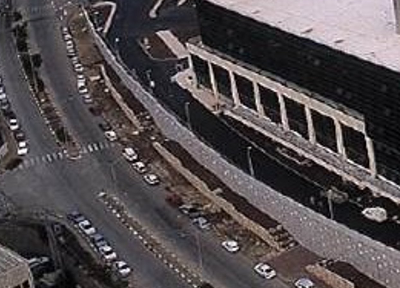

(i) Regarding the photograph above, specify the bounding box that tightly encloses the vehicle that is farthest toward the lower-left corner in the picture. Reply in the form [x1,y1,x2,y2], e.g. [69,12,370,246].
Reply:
[26,241,51,265]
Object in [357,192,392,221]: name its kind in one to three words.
van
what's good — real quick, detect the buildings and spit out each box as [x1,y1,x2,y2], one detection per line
[180,0,400,184]
[0,246,36,288]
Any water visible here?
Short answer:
No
